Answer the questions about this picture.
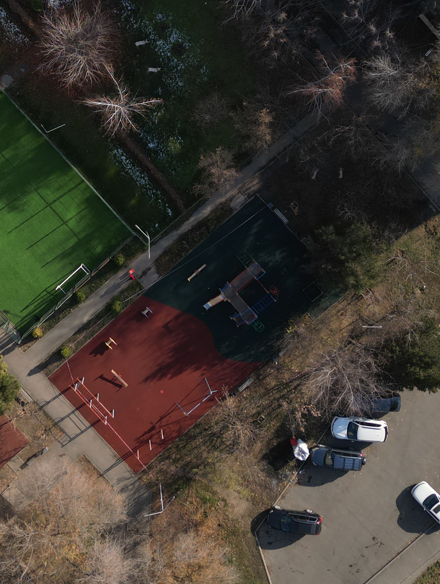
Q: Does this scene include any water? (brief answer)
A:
No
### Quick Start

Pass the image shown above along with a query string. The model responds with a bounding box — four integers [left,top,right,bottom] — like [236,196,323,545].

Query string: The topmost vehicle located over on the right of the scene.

[348,390,404,416]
